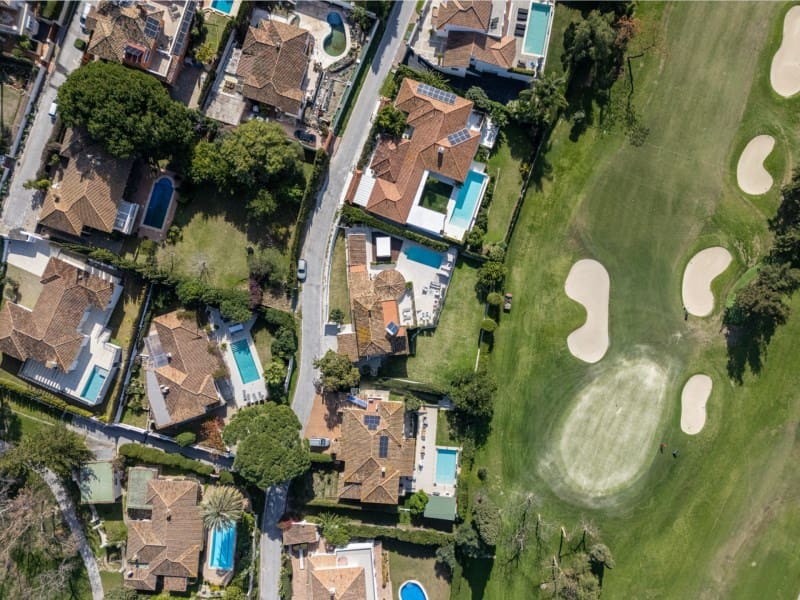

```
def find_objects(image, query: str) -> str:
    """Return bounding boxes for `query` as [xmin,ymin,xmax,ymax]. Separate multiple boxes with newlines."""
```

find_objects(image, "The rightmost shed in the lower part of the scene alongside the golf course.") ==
[424,494,456,520]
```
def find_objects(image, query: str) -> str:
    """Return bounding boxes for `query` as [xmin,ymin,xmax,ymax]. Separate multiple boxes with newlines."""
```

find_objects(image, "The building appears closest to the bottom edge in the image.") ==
[306,540,375,600]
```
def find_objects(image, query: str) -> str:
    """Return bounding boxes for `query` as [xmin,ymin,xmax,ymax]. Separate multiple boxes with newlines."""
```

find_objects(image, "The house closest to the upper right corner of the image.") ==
[438,0,516,77]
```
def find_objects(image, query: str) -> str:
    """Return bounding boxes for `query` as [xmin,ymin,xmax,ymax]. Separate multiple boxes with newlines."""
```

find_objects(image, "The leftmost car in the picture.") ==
[48,102,61,122]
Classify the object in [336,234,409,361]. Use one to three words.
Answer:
house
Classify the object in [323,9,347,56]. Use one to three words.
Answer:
swimming pool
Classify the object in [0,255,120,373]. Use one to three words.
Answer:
house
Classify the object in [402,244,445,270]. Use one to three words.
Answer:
swimming pool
